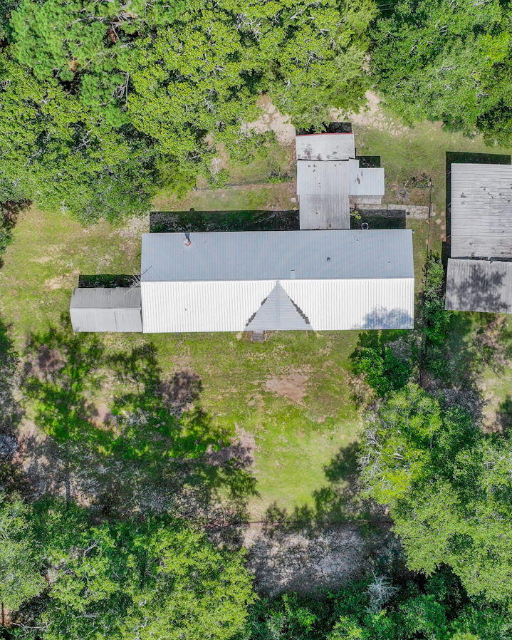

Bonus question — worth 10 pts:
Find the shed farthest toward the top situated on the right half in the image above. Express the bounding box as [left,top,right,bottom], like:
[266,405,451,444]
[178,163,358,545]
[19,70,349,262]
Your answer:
[297,132,356,160]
